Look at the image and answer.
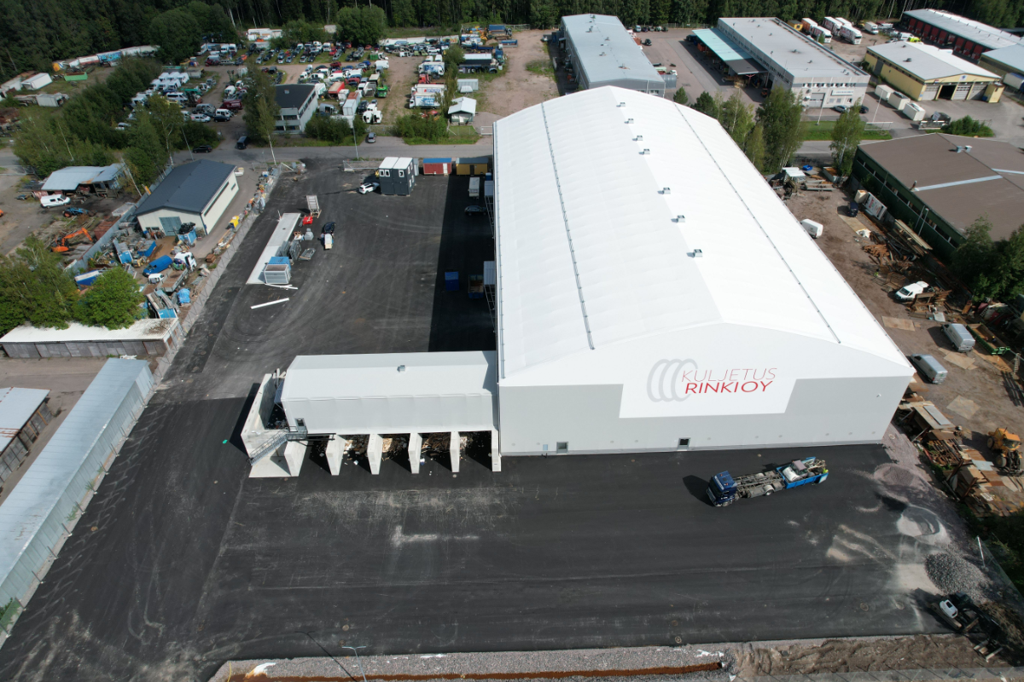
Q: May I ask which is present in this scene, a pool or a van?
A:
van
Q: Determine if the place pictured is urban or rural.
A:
urban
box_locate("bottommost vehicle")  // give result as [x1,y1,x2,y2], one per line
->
[932,596,1011,652]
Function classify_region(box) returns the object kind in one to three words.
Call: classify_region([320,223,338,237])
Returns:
car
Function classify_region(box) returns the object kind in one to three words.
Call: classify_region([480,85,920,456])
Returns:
building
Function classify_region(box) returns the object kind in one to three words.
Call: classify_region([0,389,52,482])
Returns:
shed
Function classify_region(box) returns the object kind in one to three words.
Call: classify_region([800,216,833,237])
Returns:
vehicle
